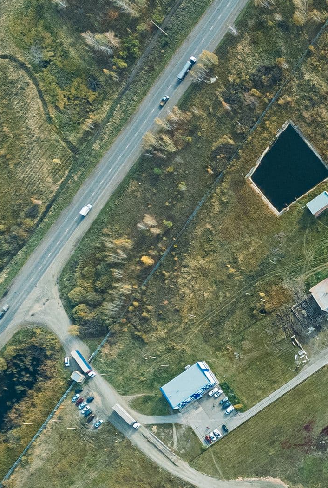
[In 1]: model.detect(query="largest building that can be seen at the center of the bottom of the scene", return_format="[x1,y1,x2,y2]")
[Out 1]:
[160,362,219,409]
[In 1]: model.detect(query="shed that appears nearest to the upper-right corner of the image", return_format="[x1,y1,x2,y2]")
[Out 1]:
[306,191,328,214]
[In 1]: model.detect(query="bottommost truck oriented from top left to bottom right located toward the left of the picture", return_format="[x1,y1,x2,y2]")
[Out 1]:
[112,404,145,431]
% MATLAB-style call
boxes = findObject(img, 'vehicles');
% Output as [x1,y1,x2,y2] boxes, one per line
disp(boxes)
[178,57,199,82]
[75,397,84,406]
[221,424,228,434]
[205,436,212,444]
[84,410,93,418]
[208,387,219,396]
[160,96,168,107]
[112,404,145,431]
[224,406,235,414]
[210,431,217,440]
[78,402,87,410]
[86,396,94,404]
[222,401,232,409]
[81,204,93,216]
[86,414,95,423]
[213,389,222,397]
[82,406,91,414]
[65,357,70,367]
[74,387,84,394]
[213,429,221,438]
[72,394,81,402]
[220,397,228,404]
[70,351,100,379]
